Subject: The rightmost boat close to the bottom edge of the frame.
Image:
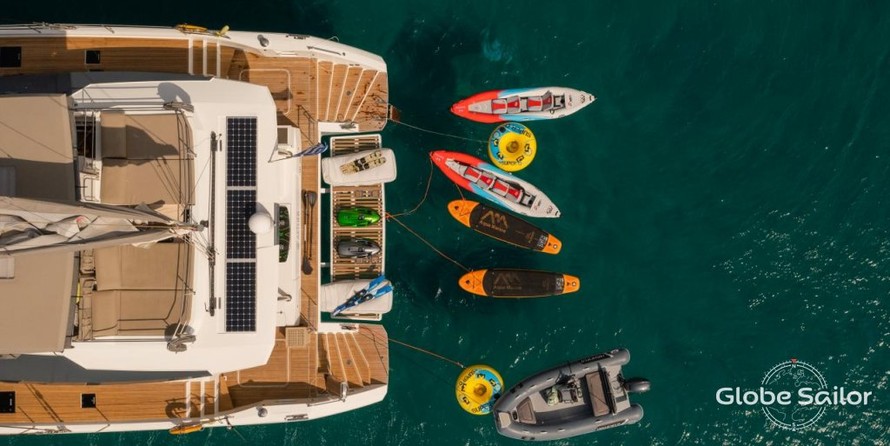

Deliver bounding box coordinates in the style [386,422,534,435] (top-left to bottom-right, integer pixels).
[492,348,650,443]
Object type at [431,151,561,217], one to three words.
boat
